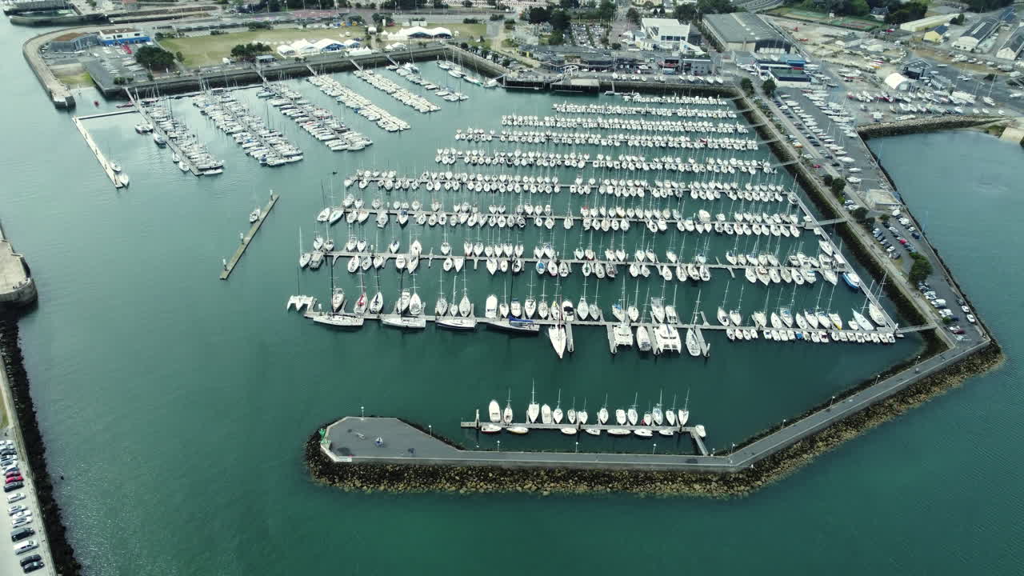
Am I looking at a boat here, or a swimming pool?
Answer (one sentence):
It is a boat that can be seen here.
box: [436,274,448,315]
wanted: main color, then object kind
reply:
white boat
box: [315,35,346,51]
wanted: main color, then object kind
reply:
white tent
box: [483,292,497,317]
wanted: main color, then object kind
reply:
white boat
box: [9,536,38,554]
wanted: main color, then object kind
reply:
white vehicle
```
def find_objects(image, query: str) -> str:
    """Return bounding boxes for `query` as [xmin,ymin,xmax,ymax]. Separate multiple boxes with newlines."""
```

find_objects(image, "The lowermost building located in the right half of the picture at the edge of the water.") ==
[865,189,903,211]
